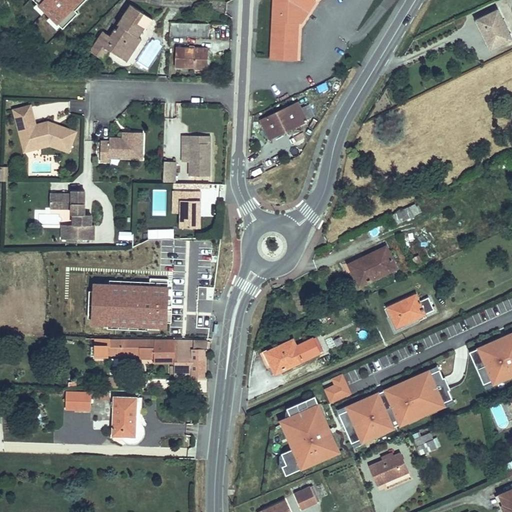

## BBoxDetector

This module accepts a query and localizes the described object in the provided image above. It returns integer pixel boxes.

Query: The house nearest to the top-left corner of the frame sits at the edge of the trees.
[34,0,87,43]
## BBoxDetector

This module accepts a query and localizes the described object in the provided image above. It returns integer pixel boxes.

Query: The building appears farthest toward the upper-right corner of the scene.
[474,10,512,51]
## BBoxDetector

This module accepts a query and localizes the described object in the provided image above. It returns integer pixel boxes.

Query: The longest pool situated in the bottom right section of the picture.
[490,402,510,430]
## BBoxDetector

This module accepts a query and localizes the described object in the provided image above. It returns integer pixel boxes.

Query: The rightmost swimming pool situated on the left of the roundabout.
[152,189,168,216]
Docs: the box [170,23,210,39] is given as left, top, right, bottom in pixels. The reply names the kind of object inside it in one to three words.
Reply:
building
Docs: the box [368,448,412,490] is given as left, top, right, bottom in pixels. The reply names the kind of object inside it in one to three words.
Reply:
house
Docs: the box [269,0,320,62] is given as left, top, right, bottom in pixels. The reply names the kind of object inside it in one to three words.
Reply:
building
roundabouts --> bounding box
[229,201,318,296]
